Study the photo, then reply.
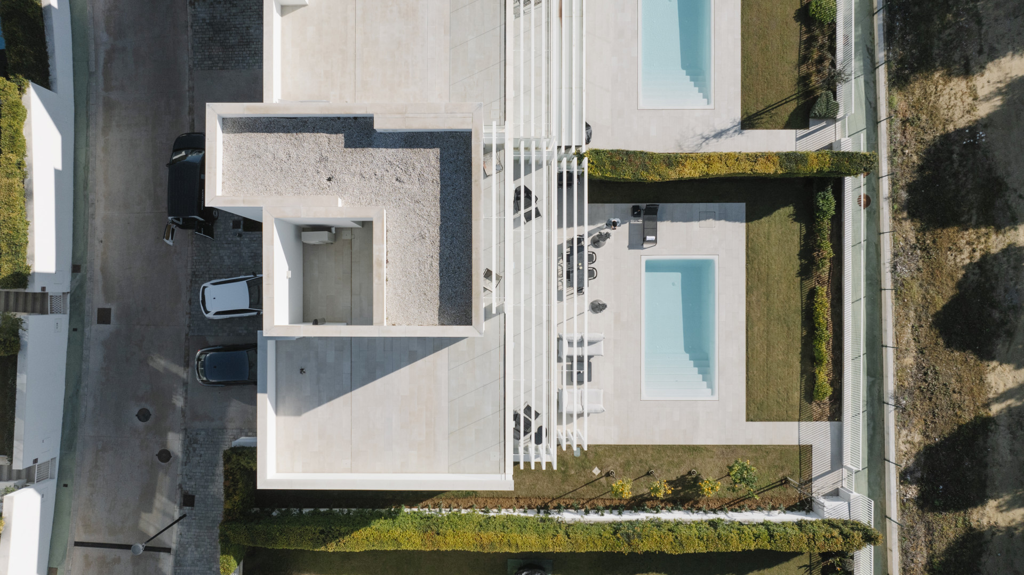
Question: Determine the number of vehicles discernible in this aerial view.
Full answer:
In total, 3 vehicles can be seen.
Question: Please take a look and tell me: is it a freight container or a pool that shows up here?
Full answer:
Visible in the photo is a pool.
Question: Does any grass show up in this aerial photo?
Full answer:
Yes, grass shows up in the scene.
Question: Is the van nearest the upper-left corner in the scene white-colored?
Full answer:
No, the color of the van nearest the upper-left corner is black.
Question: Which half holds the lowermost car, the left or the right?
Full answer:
You can find the lowermost car on the left side of the picture.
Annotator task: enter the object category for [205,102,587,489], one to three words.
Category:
house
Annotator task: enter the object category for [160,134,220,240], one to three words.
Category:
van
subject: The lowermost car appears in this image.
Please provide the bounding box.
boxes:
[195,343,257,387]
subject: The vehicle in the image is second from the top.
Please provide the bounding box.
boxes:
[198,269,263,320]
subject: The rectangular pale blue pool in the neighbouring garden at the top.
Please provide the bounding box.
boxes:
[638,0,714,109]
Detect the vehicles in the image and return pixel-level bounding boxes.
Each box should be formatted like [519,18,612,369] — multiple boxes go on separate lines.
[195,343,257,387]
[198,269,263,320]
[160,134,220,240]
